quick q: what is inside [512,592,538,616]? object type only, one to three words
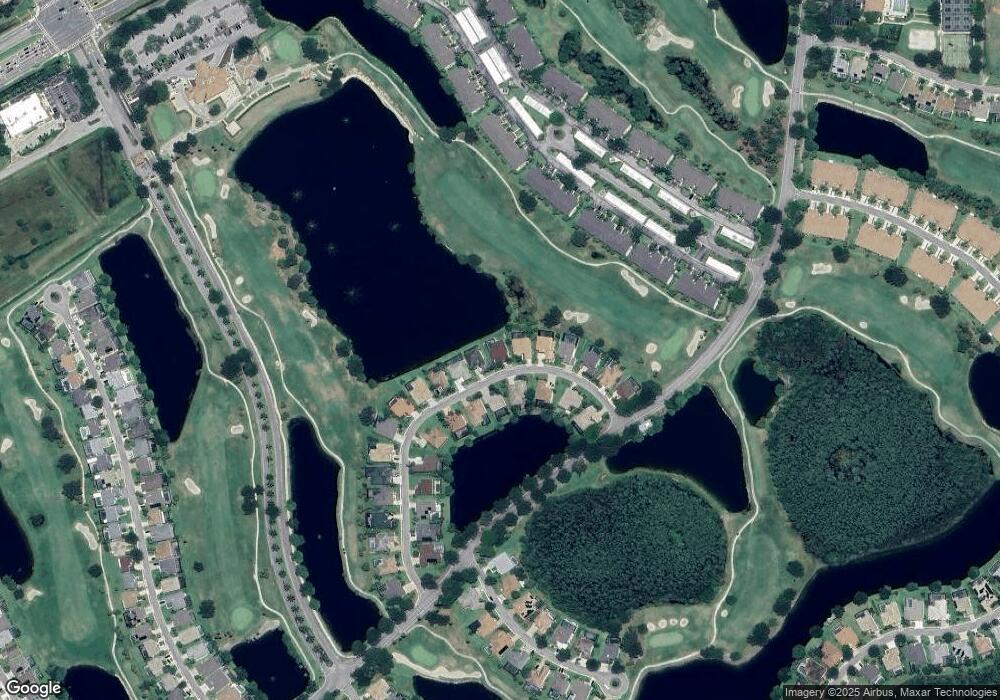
house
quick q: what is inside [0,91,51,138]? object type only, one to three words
building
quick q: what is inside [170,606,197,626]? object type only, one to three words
house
